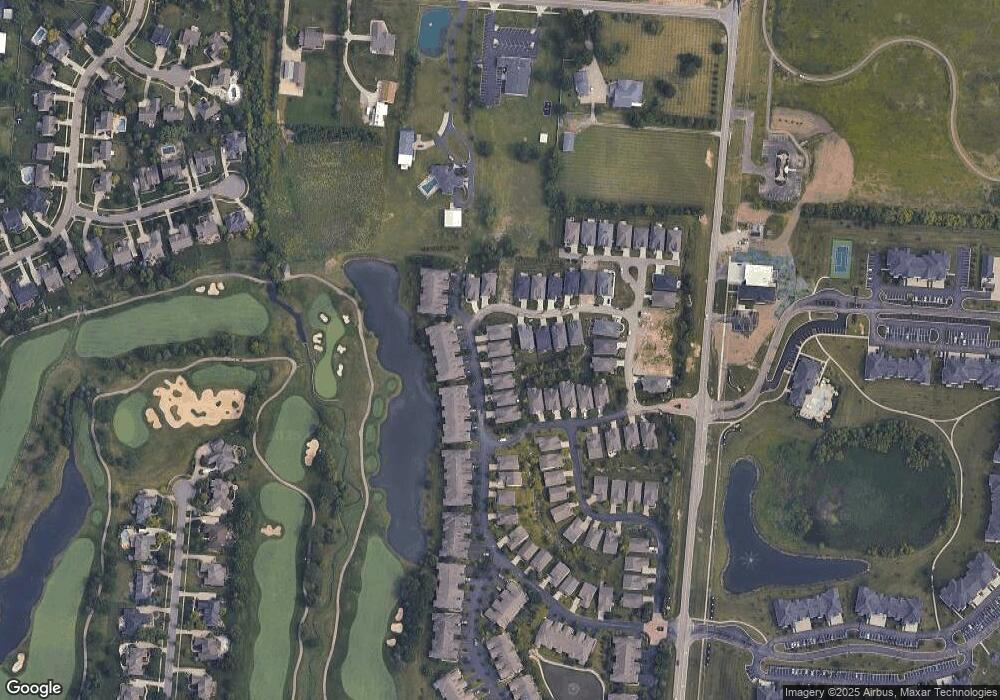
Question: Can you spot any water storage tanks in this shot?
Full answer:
No, I find no water storage tank anywhere in the image.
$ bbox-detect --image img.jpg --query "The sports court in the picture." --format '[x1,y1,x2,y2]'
[832,239,853,278]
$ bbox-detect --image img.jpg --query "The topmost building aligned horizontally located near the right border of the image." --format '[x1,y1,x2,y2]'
[888,249,951,279]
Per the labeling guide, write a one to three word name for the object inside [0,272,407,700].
golf course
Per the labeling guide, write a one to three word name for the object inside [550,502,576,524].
house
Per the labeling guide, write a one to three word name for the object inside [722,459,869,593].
pond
